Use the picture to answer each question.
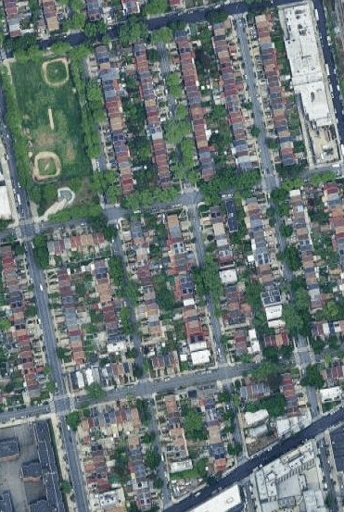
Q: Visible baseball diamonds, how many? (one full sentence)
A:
The photo contains 2 baseball diamonds.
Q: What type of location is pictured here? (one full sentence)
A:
It's a residential area.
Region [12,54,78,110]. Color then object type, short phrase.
green baseball field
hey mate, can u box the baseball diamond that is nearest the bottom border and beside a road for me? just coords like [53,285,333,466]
[23,101,89,183]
